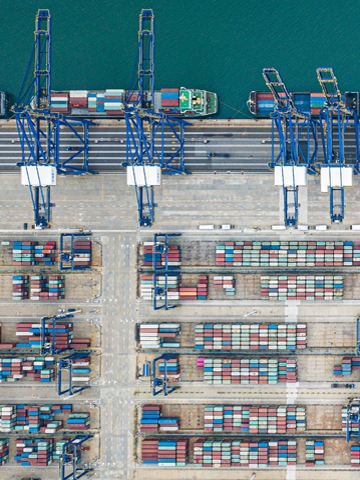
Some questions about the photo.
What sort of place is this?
port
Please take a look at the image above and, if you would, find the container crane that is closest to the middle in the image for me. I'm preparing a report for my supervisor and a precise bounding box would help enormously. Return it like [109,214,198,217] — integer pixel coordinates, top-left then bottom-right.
[153,235,182,270]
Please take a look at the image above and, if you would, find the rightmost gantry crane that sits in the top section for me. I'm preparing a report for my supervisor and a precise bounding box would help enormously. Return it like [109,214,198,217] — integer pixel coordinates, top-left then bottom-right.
[314,62,360,229]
